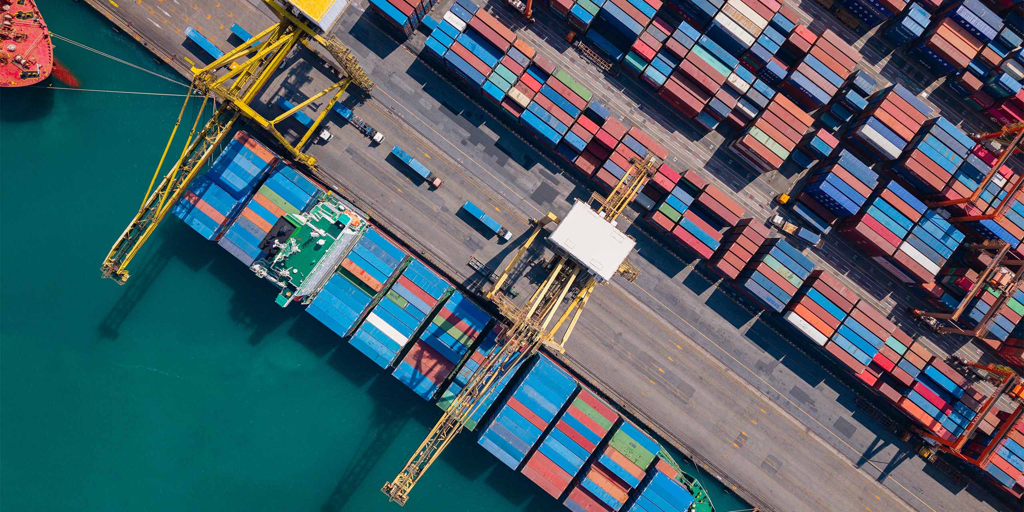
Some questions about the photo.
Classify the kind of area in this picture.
port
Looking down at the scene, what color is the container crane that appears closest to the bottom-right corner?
red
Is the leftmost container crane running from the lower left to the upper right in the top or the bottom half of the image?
top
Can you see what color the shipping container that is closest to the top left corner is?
blue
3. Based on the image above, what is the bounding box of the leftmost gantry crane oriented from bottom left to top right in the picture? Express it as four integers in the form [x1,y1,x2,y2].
[94,0,380,282]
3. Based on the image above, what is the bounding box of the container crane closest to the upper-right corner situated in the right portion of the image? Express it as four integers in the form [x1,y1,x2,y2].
[927,119,1024,223]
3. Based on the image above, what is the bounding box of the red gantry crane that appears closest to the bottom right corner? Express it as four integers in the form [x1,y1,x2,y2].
[897,351,1024,468]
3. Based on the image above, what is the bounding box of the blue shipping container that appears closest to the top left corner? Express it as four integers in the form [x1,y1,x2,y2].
[185,26,227,60]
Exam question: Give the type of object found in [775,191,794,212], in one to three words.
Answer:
vehicle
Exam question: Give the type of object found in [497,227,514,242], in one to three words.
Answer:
vehicle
